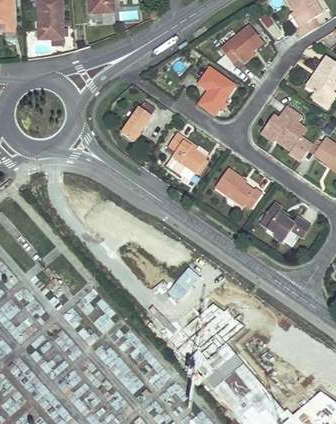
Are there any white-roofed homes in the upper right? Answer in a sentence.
Yes, the scene does show a white-roofed home in the upper right.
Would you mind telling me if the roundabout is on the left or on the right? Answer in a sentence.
It is on the left.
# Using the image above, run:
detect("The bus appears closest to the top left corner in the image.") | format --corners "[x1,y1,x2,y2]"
[152,34,180,55]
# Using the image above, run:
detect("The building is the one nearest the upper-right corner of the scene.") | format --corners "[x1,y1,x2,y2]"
[288,0,324,38]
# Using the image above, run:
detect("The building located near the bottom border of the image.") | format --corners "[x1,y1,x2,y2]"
[161,296,336,424]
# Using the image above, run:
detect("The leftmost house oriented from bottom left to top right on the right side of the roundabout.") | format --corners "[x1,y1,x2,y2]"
[123,107,152,142]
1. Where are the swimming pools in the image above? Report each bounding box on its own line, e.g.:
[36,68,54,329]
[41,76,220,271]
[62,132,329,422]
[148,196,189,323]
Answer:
[119,10,140,22]
[271,0,285,9]
[173,60,187,74]
[36,44,51,54]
